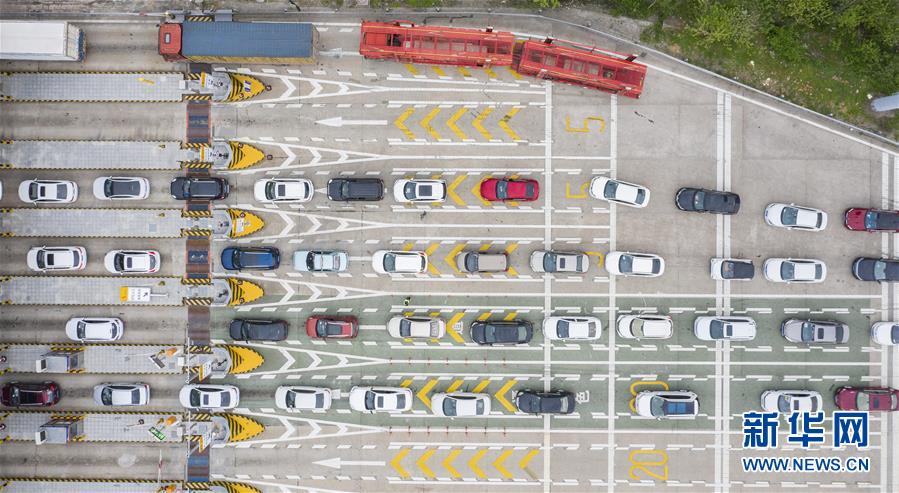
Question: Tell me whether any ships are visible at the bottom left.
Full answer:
No, no ship can be made out at the bottom left.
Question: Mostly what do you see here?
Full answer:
The scene is dominated by paved ground.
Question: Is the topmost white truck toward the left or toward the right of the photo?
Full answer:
You can find the topmost white truck on the left side of the picture.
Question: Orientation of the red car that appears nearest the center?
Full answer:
In this picture, the red car that appears nearest the center is oriented from left to right.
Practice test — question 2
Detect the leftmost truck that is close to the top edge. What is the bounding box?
[0,25,87,64]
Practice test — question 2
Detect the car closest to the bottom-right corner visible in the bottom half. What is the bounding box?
[831,386,899,413]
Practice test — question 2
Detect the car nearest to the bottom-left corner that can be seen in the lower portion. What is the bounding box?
[1,381,61,409]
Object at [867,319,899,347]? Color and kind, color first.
white car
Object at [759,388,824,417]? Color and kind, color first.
white car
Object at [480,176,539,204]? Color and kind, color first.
red car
